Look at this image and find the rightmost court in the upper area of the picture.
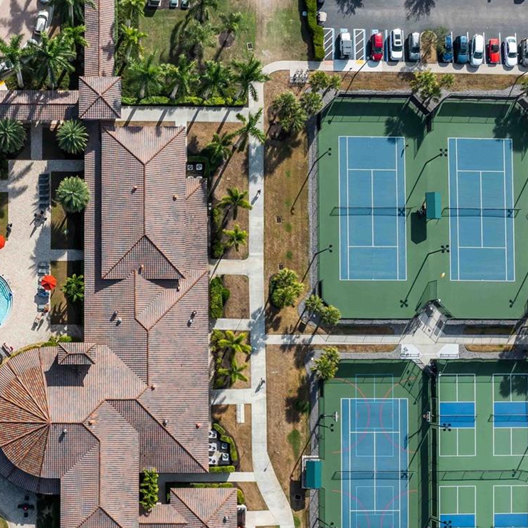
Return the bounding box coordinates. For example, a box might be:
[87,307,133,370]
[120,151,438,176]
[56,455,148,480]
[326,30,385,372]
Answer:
[427,97,528,319]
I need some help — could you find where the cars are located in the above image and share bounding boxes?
[468,34,485,68]
[388,30,404,60]
[0,60,16,78]
[455,36,469,64]
[518,39,528,69]
[502,38,519,68]
[407,32,422,62]
[369,32,385,62]
[486,40,501,66]
[440,34,456,64]
[33,9,49,39]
